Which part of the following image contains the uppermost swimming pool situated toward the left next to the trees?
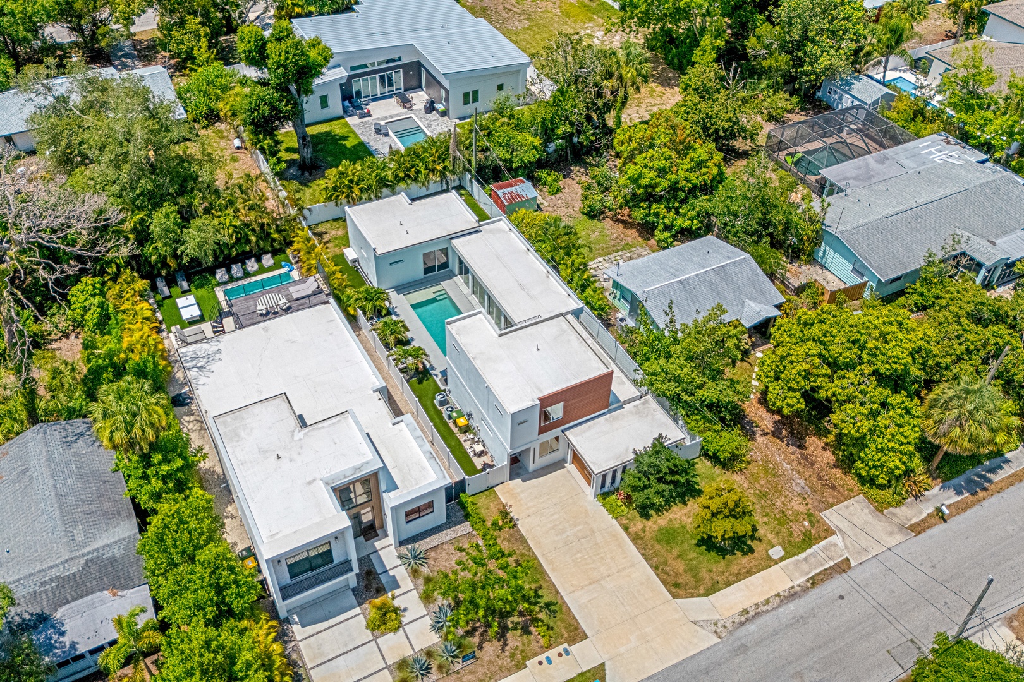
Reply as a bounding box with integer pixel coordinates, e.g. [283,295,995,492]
[381,112,435,148]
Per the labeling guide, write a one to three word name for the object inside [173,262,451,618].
house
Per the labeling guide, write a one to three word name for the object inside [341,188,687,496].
house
